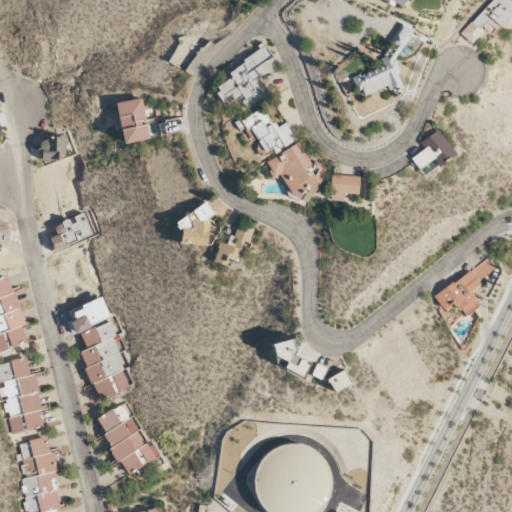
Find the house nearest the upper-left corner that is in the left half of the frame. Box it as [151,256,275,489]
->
[42,136,68,164]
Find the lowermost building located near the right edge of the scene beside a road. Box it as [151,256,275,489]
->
[434,258,497,316]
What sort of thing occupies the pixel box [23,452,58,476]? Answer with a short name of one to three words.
house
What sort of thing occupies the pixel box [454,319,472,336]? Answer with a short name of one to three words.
swimming pool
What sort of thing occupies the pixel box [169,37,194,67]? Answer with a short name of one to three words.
building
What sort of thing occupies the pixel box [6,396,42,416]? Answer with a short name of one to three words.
house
